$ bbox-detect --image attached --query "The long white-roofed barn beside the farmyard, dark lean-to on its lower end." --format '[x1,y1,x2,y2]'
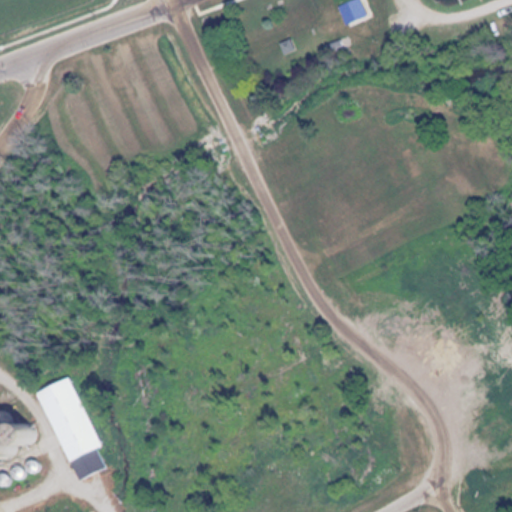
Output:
[36,377,109,478]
